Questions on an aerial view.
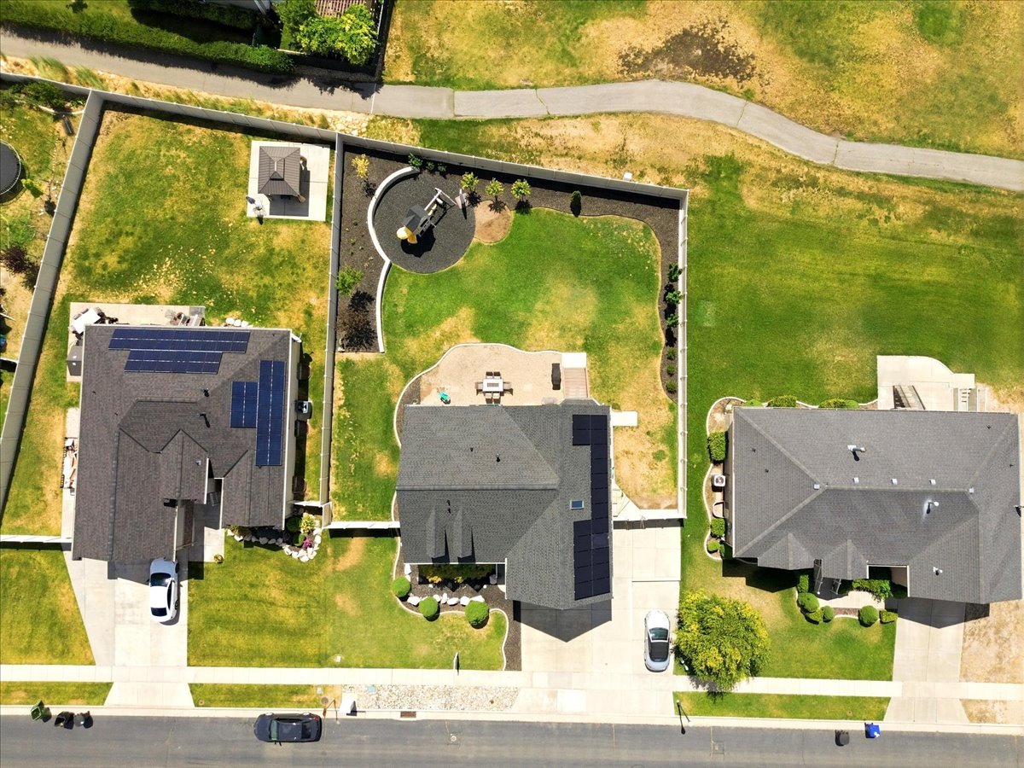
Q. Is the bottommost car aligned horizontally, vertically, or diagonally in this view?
horizontally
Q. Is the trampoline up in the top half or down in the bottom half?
top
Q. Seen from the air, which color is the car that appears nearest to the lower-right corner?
white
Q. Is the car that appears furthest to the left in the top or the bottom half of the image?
bottom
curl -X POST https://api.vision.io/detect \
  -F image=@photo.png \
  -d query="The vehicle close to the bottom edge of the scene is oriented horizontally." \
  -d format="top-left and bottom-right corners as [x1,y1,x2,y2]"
[255,712,324,746]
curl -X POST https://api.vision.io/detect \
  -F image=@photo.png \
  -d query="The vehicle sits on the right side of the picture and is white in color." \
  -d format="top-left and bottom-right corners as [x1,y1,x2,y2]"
[642,606,673,672]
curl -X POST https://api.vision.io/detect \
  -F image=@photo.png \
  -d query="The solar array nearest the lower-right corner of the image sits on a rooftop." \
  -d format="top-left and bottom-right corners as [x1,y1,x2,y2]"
[573,415,611,598]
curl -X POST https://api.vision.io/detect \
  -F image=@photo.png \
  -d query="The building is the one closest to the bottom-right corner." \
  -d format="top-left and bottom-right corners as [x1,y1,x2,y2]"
[724,405,1023,604]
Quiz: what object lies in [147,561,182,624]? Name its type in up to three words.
car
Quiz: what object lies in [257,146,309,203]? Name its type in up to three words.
gazebo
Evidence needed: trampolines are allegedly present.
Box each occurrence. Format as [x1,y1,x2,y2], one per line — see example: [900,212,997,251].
[0,142,29,199]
